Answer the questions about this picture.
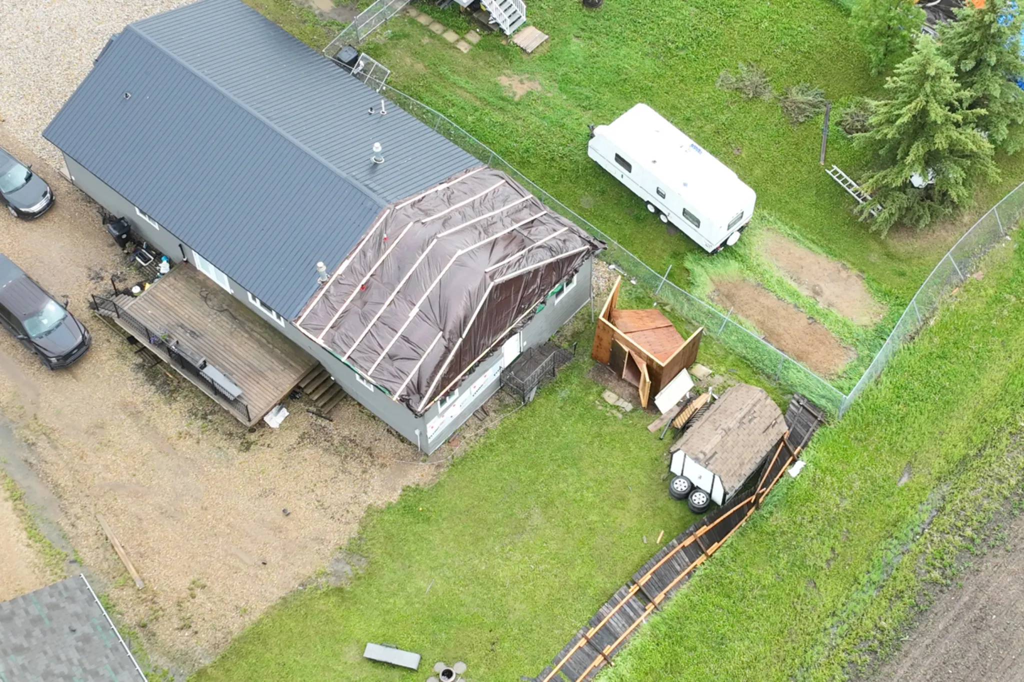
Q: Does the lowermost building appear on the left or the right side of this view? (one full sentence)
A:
The lowermost building sits on the left side.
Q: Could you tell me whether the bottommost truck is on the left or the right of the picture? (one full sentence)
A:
It is on the left.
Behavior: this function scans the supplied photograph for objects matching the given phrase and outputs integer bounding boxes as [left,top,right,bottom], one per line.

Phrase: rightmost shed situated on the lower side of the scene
[665,381,789,506]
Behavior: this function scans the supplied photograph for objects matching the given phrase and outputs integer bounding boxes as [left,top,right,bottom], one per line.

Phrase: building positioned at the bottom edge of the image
[0,574,150,682]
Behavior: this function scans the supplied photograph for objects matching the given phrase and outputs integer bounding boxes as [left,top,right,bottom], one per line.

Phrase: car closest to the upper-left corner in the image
[0,147,56,225]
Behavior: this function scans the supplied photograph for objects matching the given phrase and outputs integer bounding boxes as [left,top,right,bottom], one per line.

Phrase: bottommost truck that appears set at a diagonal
[0,256,94,371]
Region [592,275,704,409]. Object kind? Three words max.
shed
